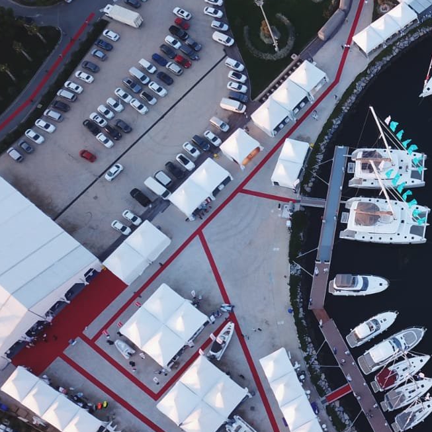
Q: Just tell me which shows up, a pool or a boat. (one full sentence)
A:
Visible in the photo is a boat.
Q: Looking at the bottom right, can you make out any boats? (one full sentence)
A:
Yes, you'll find a boat at the bottom right.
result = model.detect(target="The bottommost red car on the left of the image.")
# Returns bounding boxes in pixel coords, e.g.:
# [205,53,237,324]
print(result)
[78,149,99,163]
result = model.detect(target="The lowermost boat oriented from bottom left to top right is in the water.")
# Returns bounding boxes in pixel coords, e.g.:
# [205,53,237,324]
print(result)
[382,396,432,431]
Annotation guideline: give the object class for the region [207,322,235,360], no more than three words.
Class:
boat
